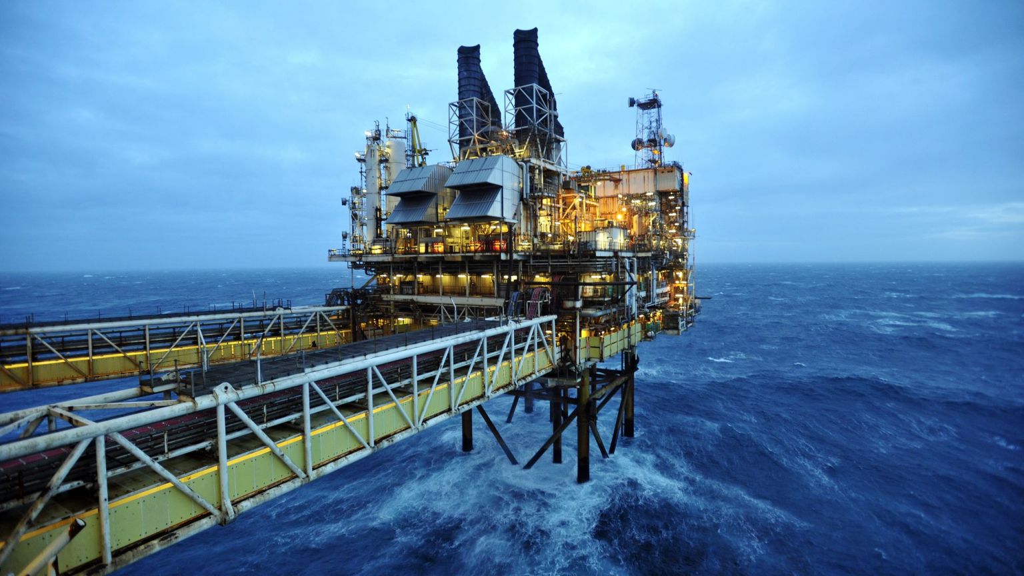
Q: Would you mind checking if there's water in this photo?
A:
Yes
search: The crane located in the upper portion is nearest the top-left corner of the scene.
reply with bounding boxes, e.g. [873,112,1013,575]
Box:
[404,105,451,169]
